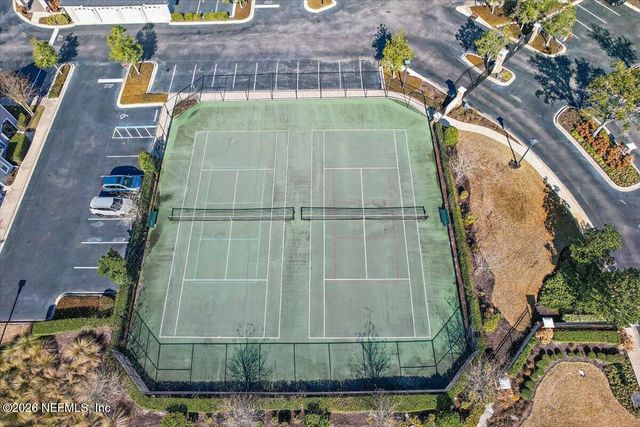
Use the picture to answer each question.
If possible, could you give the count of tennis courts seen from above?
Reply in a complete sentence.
The number of tennis courts here is 2.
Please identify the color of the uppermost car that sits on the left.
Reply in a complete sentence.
From above, the uppermost car that sits on the left appears blue.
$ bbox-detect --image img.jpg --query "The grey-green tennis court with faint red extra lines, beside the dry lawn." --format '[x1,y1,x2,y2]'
[309,129,431,338]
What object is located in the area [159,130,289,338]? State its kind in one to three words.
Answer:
tennis court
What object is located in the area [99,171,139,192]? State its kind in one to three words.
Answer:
car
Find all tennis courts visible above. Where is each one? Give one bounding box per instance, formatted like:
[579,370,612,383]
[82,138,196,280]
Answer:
[159,130,289,338]
[309,129,431,338]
